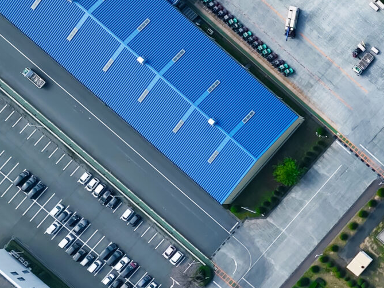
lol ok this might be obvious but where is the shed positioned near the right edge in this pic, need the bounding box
[346,250,374,275]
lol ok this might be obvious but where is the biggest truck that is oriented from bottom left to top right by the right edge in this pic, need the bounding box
[352,48,376,76]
